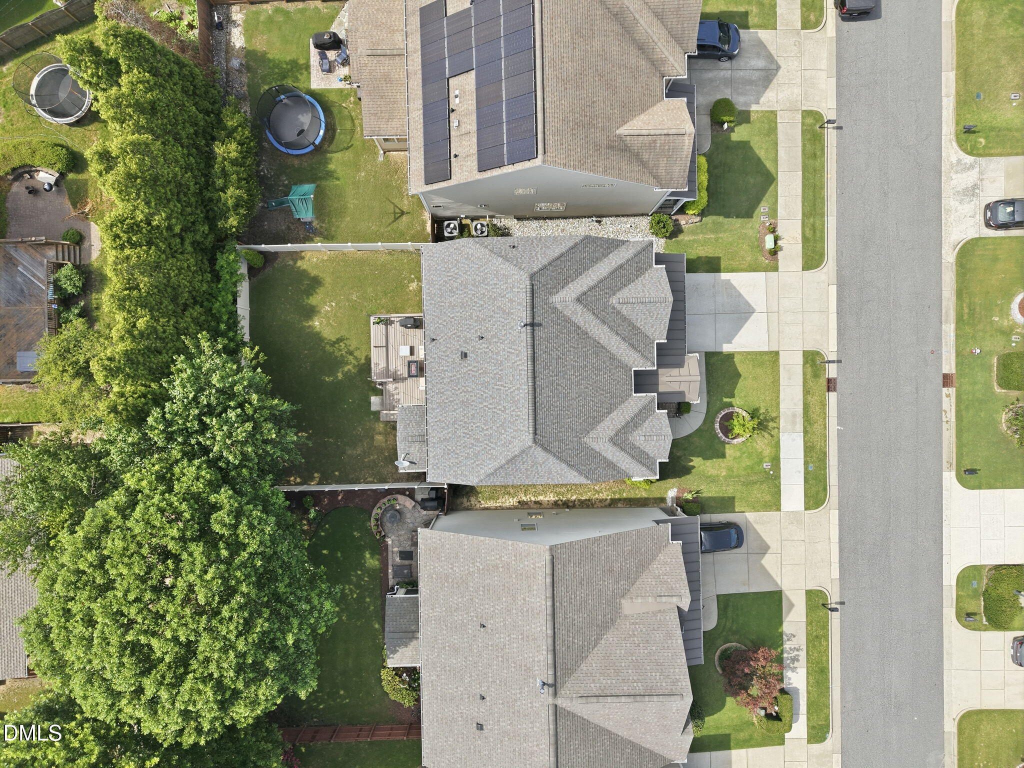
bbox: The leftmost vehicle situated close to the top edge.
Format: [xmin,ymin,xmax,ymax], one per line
[688,24,732,67]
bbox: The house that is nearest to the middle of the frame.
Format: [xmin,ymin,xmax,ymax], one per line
[370,236,702,486]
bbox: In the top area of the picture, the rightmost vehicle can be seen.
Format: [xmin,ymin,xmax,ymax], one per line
[984,202,1024,234]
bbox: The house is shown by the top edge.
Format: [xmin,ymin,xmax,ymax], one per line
[346,0,702,220]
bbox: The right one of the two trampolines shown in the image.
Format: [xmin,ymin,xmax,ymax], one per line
[254,79,330,160]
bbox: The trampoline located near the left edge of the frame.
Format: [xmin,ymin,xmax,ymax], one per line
[13,49,99,132]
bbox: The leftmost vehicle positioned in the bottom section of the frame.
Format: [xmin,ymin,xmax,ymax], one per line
[701,519,744,550]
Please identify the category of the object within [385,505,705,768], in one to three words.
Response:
house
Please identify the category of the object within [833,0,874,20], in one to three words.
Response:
car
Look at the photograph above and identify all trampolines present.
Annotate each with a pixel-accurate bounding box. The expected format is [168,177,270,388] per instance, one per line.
[254,79,330,160]
[13,49,99,132]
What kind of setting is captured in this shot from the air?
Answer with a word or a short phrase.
residential area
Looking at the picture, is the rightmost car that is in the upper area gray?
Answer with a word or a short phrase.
Yes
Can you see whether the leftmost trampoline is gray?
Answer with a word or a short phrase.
Yes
